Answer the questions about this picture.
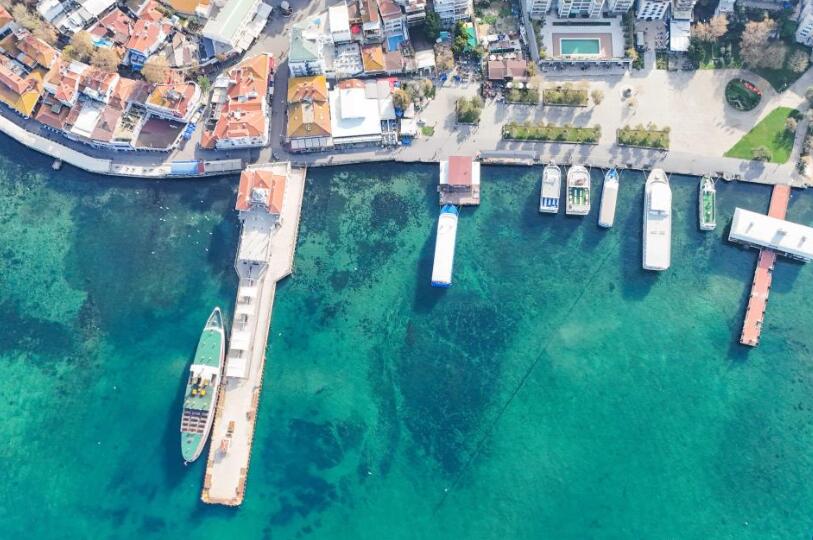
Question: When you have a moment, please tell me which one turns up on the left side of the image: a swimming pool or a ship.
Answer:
ship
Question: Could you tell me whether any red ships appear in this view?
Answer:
No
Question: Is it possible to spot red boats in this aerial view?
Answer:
No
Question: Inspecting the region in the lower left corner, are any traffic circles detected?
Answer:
No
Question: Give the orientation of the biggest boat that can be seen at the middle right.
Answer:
from top to bottom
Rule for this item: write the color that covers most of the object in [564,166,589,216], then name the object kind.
white boat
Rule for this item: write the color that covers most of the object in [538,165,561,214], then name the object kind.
white boat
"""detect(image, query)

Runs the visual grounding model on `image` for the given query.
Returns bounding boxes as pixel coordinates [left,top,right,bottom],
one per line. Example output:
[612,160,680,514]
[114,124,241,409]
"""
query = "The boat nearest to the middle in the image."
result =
[432,205,459,287]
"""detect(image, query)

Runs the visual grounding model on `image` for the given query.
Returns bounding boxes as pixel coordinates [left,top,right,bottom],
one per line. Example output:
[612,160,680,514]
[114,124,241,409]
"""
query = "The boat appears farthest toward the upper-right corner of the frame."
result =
[697,178,715,230]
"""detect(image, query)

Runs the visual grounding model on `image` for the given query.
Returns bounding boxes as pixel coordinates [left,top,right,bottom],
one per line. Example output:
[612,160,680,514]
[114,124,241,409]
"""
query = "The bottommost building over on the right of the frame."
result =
[723,208,813,268]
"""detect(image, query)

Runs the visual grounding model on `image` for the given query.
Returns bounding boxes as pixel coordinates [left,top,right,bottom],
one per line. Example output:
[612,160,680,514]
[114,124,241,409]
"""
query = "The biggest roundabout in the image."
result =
[724,78,762,111]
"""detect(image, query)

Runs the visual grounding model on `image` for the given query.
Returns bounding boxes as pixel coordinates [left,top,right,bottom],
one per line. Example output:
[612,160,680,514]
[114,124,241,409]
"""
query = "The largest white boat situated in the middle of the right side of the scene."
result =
[639,170,671,270]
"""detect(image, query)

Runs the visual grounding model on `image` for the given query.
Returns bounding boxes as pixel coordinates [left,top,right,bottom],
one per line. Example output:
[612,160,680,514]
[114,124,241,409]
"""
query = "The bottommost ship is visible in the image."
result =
[175,309,223,469]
